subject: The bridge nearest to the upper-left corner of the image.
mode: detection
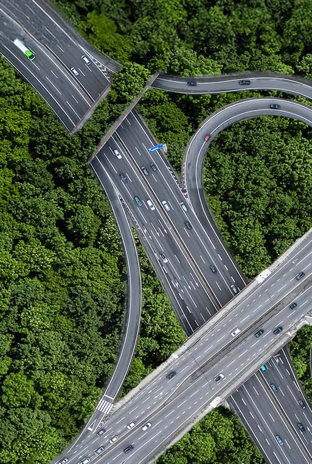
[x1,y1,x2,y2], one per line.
[66,60,159,163]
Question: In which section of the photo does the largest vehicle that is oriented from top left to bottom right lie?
top left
